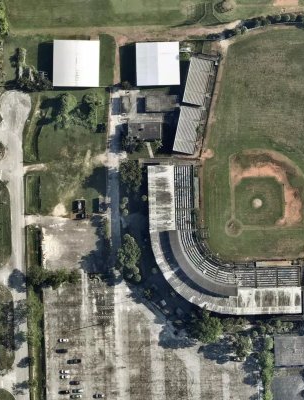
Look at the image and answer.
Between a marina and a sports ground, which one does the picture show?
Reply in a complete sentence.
It's a sports ground.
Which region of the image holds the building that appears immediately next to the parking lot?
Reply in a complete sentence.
The building that appears immediately next to the parking lot is located in the bottom right region of the scene.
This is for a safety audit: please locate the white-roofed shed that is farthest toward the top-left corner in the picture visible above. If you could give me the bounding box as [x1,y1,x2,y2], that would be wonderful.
[53,40,100,87]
